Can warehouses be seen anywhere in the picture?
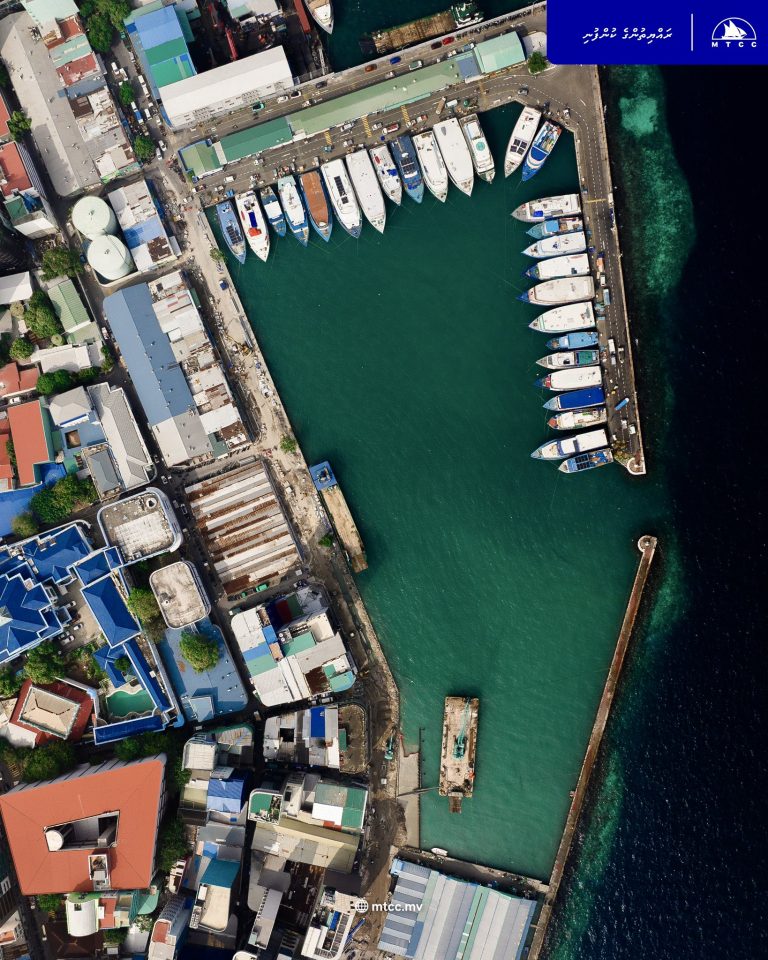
Yes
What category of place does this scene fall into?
port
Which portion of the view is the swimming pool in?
bottom left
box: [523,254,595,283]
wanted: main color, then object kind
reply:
white boat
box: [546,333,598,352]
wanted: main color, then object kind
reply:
blue boat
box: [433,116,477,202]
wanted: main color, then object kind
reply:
white boat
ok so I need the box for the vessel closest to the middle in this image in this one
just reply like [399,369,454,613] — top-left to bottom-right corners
[309,460,369,577]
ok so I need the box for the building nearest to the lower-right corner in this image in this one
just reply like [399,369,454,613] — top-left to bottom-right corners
[376,854,539,960]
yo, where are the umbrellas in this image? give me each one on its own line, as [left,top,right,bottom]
[10,301,24,315]
[52,335,64,346]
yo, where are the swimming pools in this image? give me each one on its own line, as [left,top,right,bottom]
[104,682,163,723]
